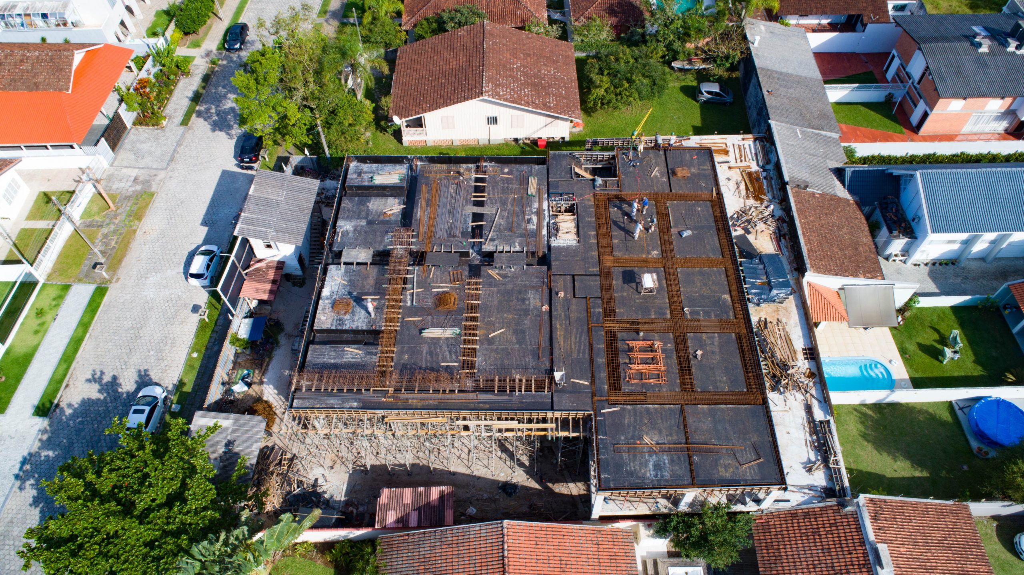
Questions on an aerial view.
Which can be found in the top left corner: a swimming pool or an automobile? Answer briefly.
automobile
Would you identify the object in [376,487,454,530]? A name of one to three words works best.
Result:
shed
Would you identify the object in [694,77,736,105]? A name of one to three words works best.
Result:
car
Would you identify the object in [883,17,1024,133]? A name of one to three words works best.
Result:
house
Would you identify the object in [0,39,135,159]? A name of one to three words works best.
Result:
house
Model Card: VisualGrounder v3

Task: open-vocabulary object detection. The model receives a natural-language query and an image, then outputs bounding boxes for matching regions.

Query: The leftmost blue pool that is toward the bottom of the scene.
[819,354,903,390]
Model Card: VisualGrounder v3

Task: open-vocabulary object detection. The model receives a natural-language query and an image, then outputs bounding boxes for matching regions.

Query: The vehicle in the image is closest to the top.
[220,18,250,50]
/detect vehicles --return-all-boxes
[694,77,736,105]
[180,238,223,287]
[220,18,250,50]
[232,125,267,166]
[115,382,168,450]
